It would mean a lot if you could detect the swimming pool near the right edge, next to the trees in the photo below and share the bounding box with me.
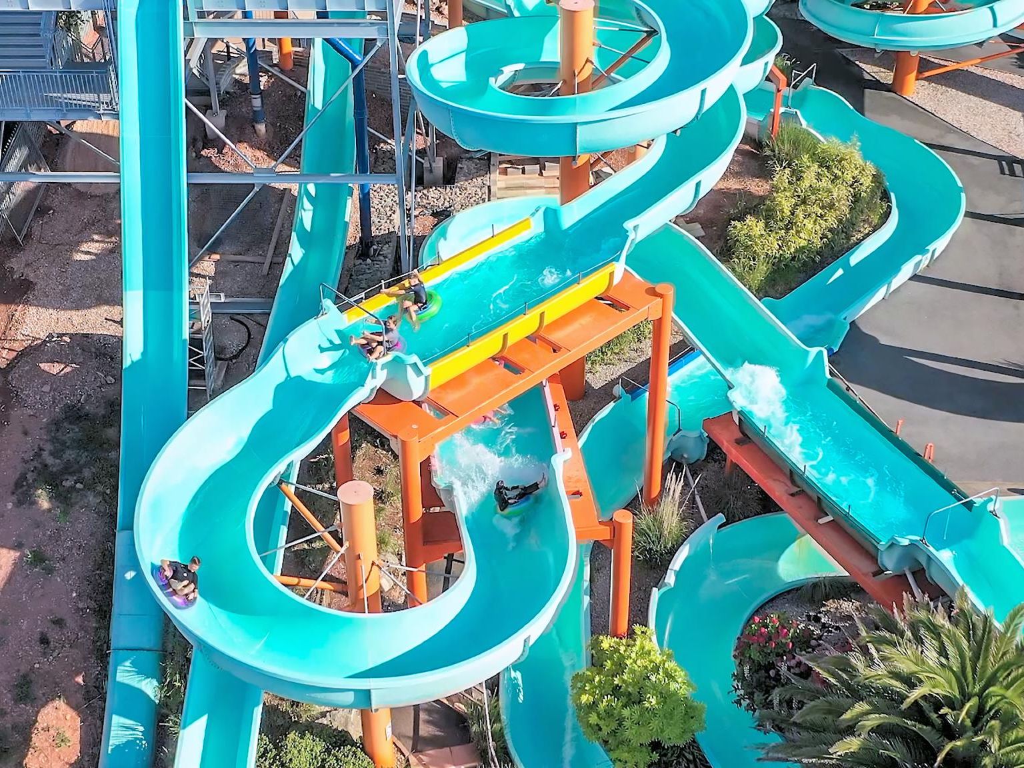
[735,378,981,565]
